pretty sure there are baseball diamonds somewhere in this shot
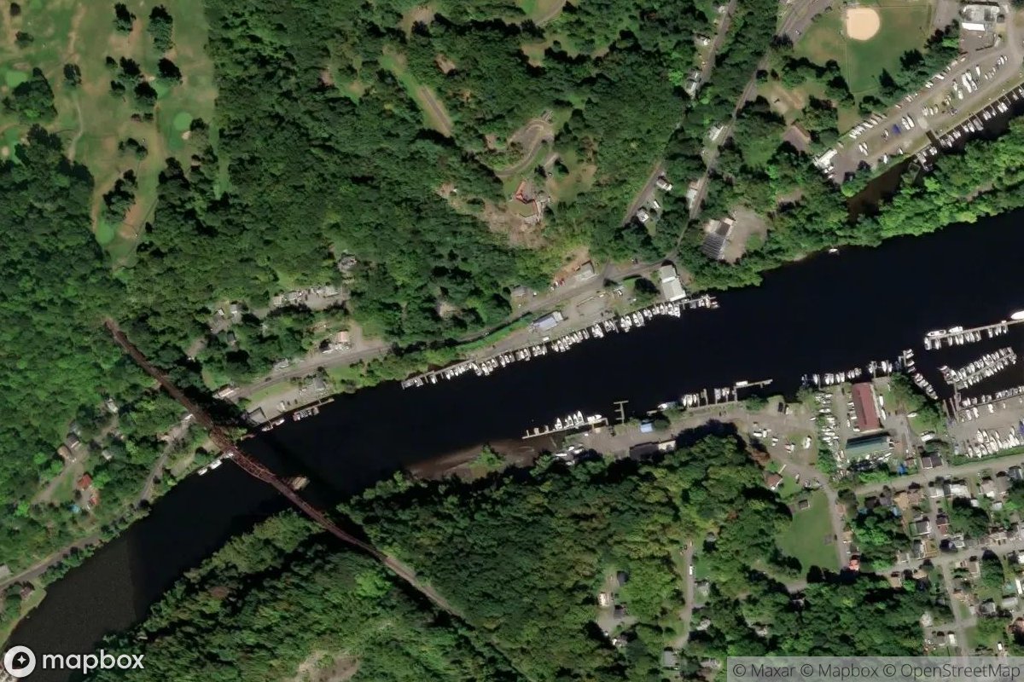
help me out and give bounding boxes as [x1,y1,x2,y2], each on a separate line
[839,1,930,92]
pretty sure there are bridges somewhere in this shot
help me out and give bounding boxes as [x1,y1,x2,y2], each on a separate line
[103,320,387,559]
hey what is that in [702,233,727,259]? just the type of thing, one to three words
building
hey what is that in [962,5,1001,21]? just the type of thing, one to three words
building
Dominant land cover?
trees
